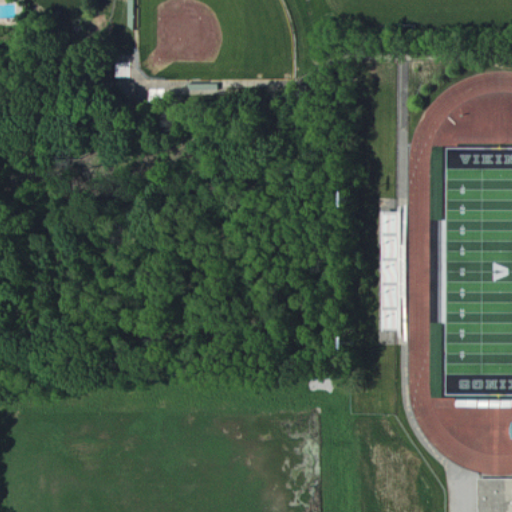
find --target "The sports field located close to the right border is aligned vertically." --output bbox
[430,144,512,398]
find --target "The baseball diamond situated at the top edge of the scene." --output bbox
[138,0,293,80]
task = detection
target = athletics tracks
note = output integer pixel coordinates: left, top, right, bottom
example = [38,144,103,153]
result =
[408,70,512,476]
